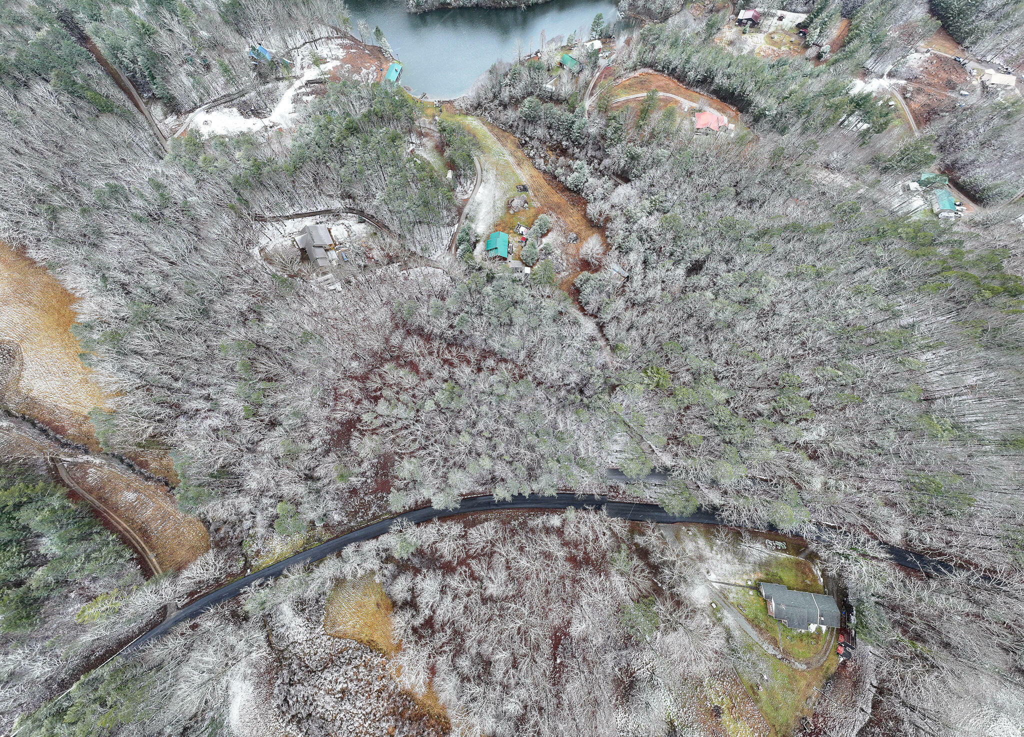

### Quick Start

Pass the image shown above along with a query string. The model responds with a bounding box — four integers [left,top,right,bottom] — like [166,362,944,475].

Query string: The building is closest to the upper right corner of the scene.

[977,69,1018,92]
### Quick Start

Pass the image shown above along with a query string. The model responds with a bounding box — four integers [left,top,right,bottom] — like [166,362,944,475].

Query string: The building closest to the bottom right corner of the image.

[754,581,842,634]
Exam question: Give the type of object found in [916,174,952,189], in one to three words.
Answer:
house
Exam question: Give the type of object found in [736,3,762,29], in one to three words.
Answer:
house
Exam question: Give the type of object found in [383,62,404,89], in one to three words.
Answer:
building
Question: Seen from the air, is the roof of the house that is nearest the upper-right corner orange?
No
